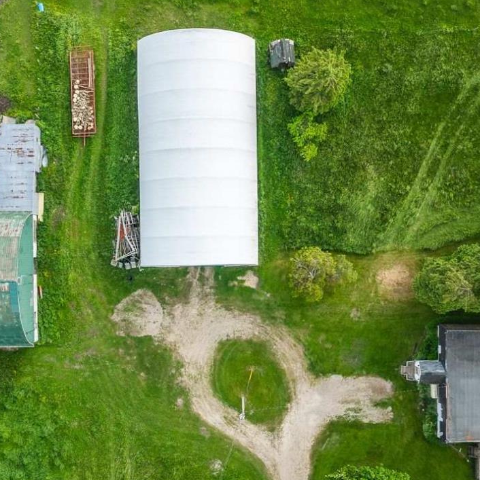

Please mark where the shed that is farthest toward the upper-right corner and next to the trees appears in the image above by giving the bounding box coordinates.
[272,34,295,70]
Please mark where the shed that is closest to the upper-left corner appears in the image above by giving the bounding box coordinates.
[0,115,44,213]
